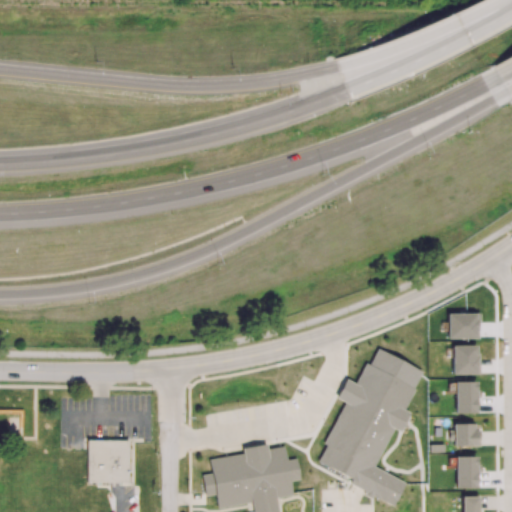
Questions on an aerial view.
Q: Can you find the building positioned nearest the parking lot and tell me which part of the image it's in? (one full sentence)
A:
You can find the building positioned nearest the parking lot in the bottom left area of the picture.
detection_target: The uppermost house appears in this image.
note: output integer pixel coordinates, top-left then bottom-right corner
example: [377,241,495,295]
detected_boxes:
[450,313,482,340]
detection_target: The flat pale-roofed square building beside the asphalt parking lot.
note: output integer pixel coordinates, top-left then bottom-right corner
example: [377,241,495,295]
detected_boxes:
[88,438,131,486]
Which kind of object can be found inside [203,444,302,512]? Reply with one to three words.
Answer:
building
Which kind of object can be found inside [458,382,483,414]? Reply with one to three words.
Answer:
house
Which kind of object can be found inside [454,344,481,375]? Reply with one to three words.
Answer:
house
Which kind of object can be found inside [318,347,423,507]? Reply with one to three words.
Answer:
building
